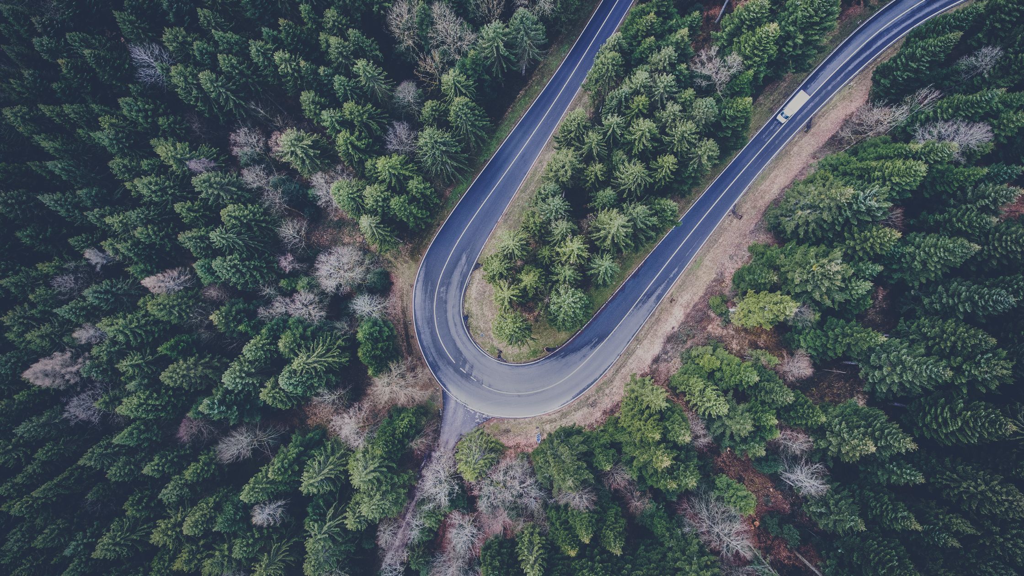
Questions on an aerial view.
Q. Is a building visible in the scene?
No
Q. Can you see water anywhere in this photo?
No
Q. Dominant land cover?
trees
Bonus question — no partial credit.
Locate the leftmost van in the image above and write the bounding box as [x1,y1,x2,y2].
[775,88,813,125]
